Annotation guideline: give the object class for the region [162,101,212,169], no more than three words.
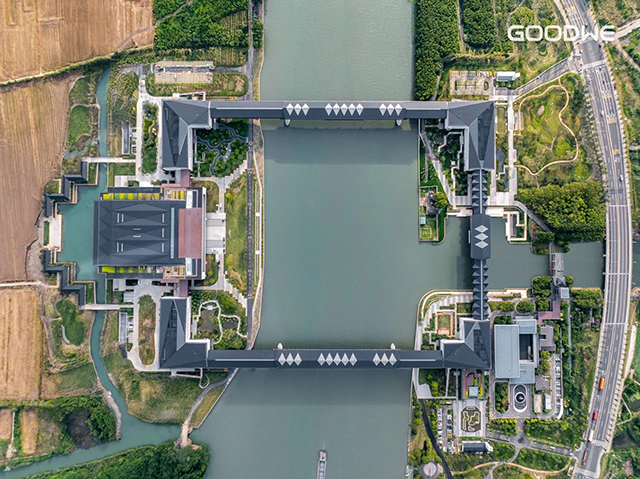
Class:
building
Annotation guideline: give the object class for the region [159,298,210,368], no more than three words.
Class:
building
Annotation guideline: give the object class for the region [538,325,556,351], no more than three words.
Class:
house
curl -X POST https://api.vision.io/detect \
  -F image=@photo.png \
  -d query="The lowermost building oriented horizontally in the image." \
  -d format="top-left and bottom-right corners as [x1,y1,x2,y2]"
[461,438,493,454]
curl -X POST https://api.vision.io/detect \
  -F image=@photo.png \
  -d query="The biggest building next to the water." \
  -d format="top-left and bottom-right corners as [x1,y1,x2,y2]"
[94,187,210,279]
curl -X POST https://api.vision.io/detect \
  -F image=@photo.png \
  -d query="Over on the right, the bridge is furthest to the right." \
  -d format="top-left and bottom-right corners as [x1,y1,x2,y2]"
[601,204,632,324]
